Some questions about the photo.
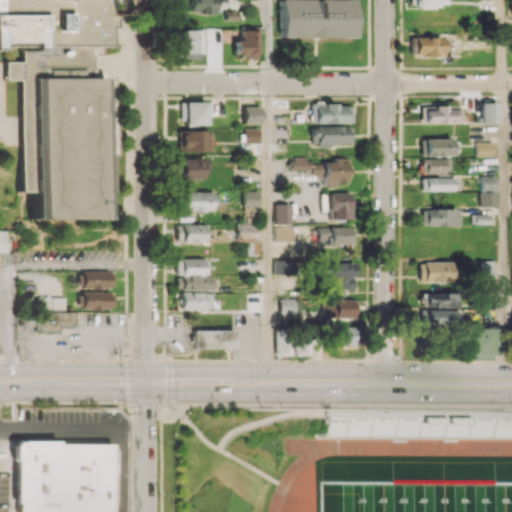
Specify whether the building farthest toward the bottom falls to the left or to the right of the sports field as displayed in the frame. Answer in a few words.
left of it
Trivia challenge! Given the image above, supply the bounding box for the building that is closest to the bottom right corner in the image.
[476,328,500,360]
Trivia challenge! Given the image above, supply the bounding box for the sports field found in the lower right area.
[316,456,512,512]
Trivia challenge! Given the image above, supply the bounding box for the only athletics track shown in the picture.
[268,439,512,512]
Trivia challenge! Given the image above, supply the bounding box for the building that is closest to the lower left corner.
[12,440,120,512]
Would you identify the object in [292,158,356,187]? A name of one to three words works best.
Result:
house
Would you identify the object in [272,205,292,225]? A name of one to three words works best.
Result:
building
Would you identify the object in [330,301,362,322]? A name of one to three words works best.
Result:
house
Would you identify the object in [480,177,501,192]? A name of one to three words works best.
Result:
building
